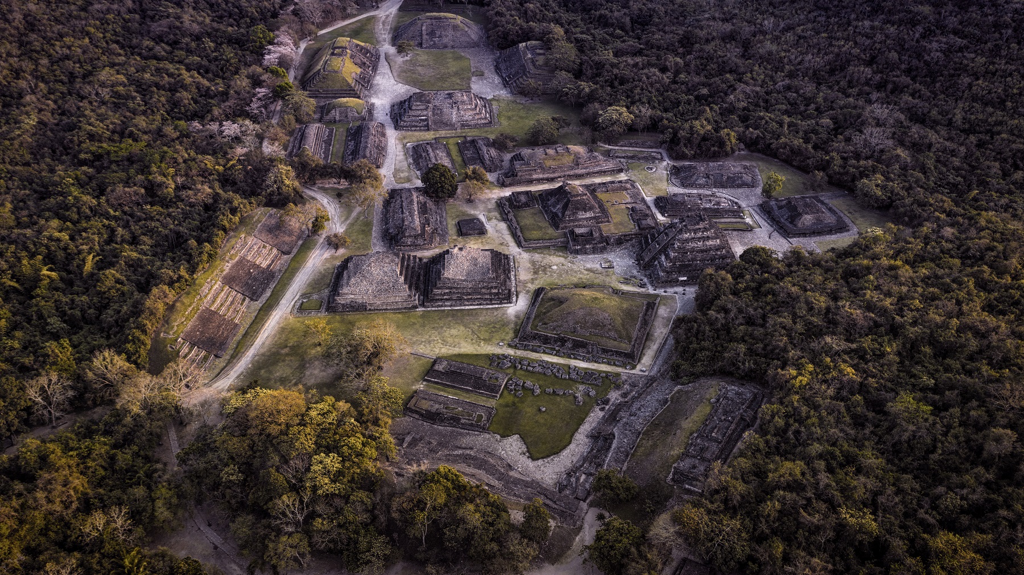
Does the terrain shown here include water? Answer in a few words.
No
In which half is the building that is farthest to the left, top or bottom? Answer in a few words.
top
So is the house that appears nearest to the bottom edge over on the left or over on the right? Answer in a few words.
right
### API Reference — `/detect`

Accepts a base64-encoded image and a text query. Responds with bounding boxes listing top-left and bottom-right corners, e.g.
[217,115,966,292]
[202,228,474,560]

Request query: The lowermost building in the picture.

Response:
[655,184,745,218]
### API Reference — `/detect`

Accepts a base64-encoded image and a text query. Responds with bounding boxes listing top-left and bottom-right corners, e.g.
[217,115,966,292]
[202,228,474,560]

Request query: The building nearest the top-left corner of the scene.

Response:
[396,90,500,132]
